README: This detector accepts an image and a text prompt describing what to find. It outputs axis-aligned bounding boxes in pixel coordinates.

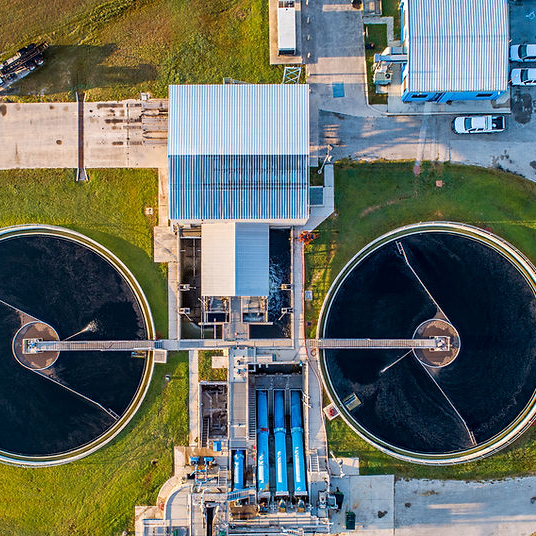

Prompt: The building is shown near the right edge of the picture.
[403,0,514,102]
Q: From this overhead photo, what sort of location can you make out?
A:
industrial area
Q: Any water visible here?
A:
Yes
